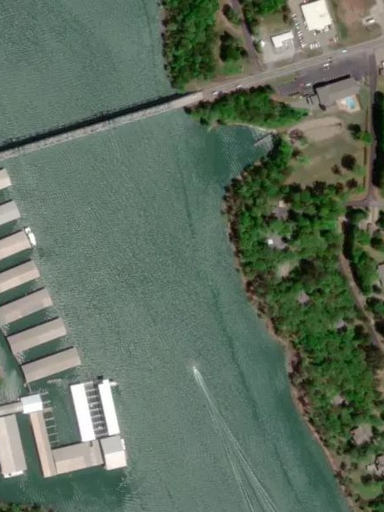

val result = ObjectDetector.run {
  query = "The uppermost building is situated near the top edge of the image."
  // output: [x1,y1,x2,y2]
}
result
[300,0,333,30]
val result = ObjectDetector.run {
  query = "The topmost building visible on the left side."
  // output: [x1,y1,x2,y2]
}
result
[20,393,42,413]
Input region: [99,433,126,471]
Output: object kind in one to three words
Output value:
building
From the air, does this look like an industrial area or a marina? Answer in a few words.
marina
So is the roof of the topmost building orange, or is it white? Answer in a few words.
white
